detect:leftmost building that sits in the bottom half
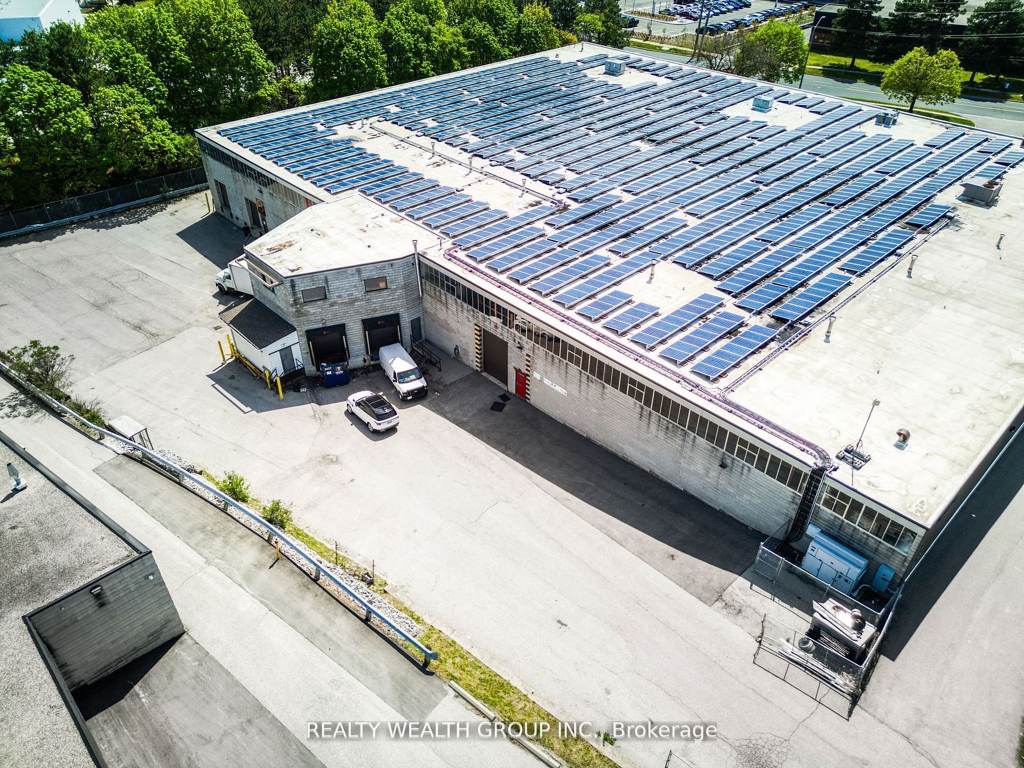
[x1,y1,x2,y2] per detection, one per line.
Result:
[0,428,186,768]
